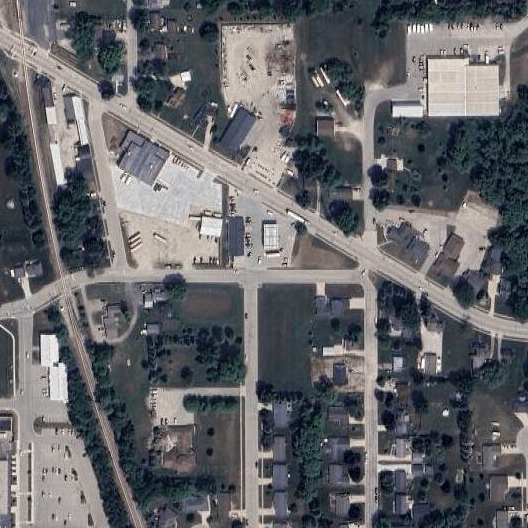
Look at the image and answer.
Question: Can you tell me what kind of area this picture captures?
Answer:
residential area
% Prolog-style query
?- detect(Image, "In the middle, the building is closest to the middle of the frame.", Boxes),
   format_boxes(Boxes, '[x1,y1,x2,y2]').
[227,215,245,256]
